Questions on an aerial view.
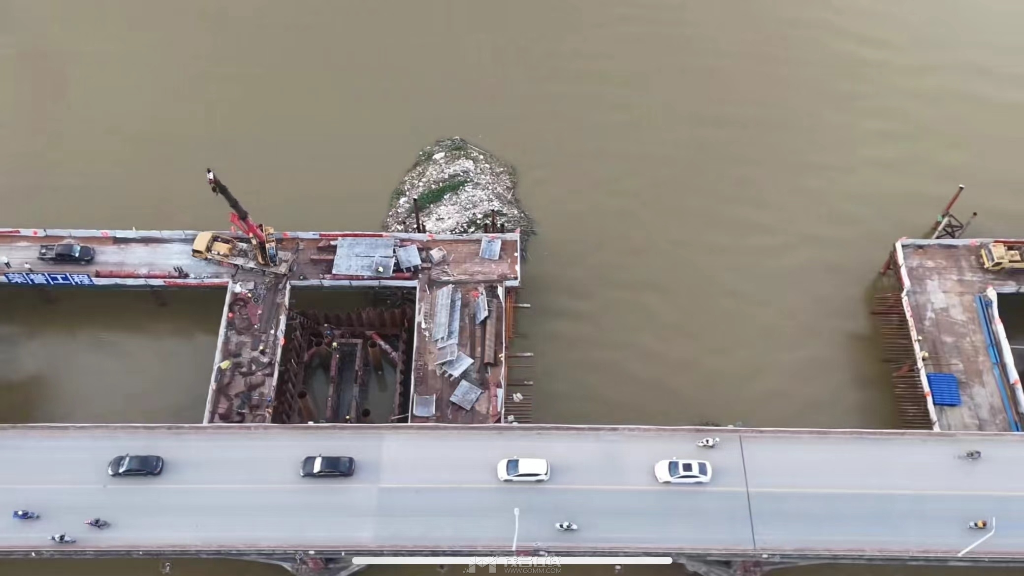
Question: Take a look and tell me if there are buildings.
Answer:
No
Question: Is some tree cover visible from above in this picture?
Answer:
No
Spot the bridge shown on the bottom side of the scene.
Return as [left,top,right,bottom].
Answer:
[0,422,1024,576]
